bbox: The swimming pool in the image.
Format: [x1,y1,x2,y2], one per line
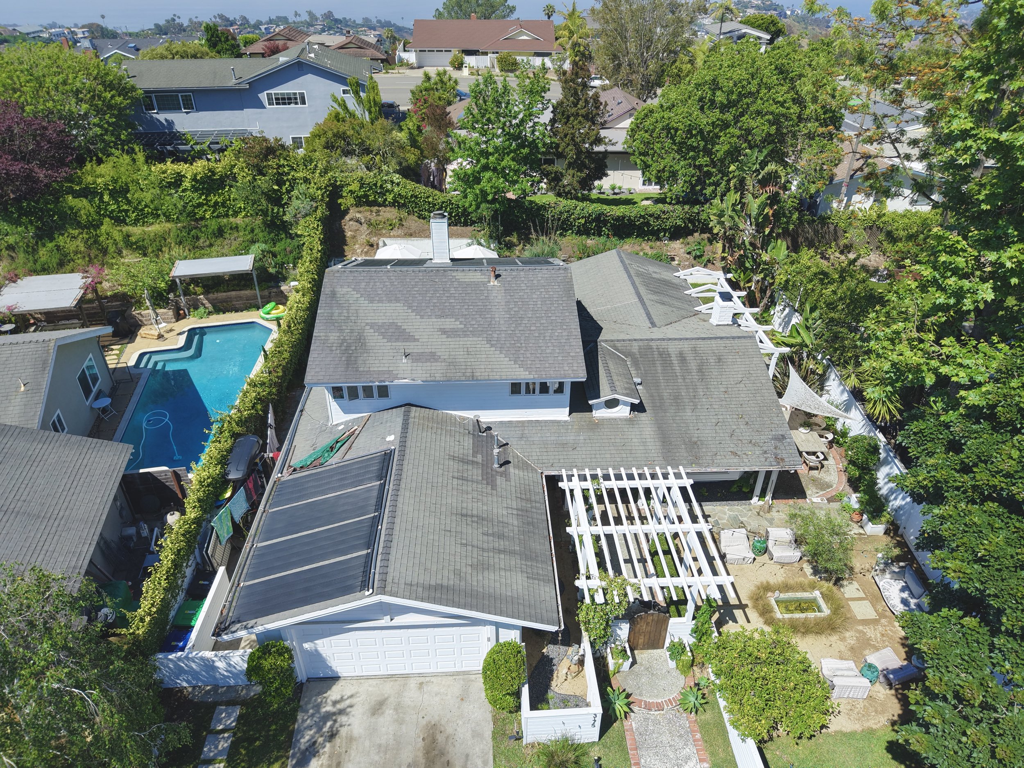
[109,316,282,468]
